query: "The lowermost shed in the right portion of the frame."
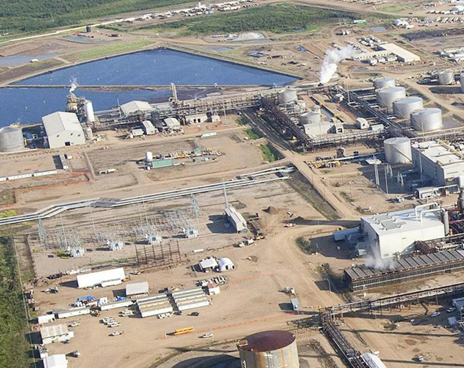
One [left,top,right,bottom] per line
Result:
[358,340,393,368]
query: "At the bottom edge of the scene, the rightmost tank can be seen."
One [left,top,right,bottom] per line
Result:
[235,327,301,368]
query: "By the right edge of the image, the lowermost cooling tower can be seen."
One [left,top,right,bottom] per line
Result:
[344,252,464,291]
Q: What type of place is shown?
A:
industrial area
